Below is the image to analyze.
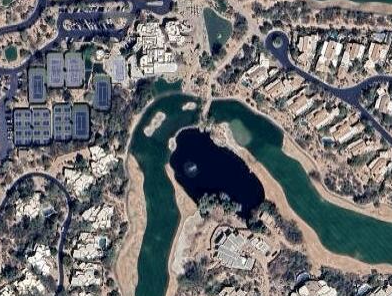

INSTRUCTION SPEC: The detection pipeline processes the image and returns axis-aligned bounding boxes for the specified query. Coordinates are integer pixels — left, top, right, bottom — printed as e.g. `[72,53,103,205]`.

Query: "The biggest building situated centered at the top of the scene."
[131,22,191,73]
